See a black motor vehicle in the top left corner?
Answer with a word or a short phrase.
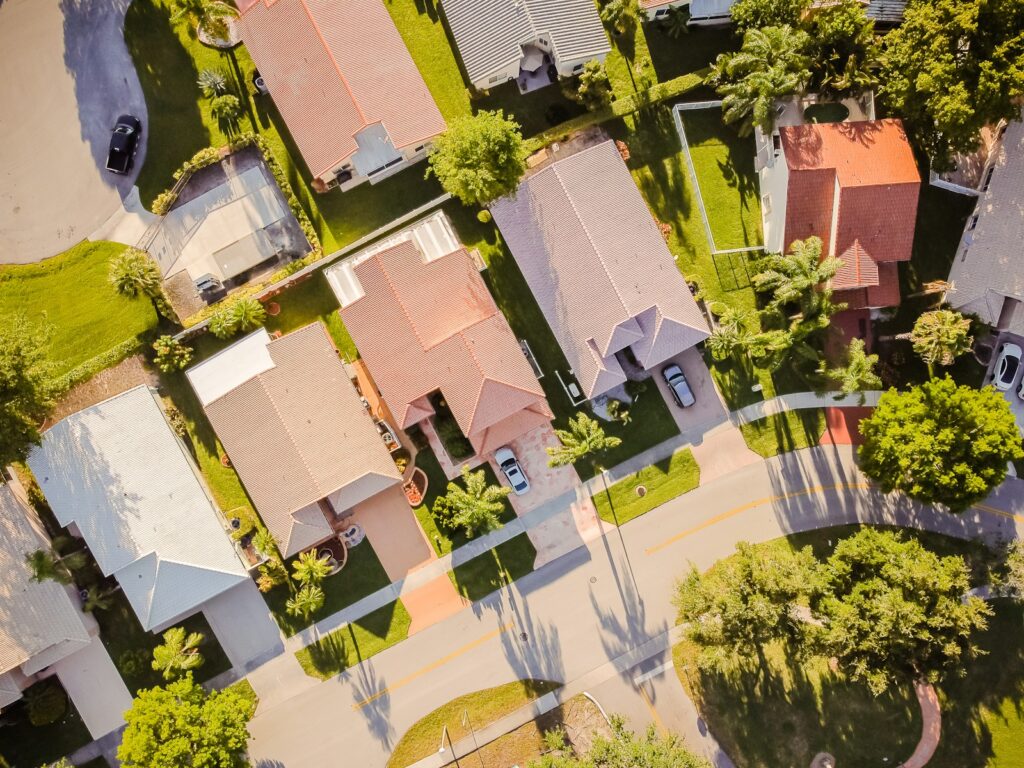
Yes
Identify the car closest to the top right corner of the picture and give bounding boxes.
[989,342,1022,391]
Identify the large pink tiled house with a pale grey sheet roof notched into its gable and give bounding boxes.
[229,0,446,199]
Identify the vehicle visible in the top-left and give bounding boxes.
[105,113,140,177]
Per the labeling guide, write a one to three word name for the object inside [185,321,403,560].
house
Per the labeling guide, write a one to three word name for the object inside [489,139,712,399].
house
